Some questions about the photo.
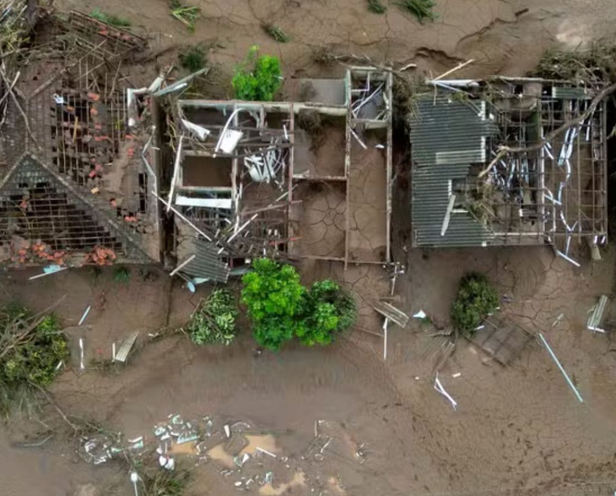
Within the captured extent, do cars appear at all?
No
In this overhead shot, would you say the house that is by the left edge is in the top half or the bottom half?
top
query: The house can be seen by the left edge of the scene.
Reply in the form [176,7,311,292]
[0,10,160,264]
